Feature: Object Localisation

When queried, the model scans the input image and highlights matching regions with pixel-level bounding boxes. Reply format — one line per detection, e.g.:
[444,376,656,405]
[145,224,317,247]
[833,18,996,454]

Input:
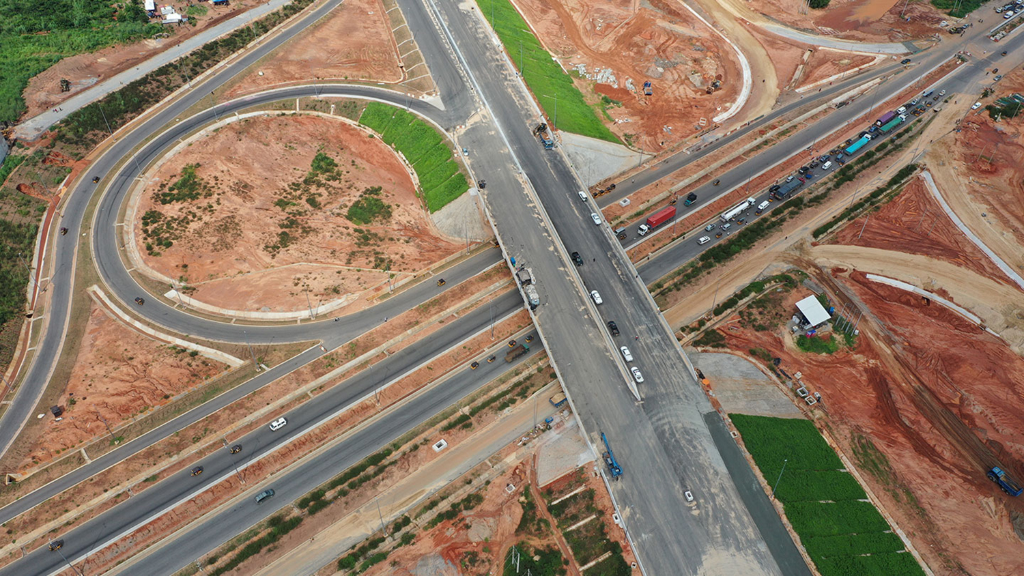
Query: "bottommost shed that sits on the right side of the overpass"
[793,295,831,333]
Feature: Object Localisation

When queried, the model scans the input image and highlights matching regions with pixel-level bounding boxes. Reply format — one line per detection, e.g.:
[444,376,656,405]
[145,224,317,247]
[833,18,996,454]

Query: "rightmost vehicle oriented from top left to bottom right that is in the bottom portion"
[985,464,1024,497]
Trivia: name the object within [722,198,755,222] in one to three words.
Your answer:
truck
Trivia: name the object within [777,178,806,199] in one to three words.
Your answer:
truck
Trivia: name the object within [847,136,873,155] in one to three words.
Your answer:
vehicle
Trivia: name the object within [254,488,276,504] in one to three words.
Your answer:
car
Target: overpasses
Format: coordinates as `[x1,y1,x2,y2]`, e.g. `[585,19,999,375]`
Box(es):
[429,0,699,576]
